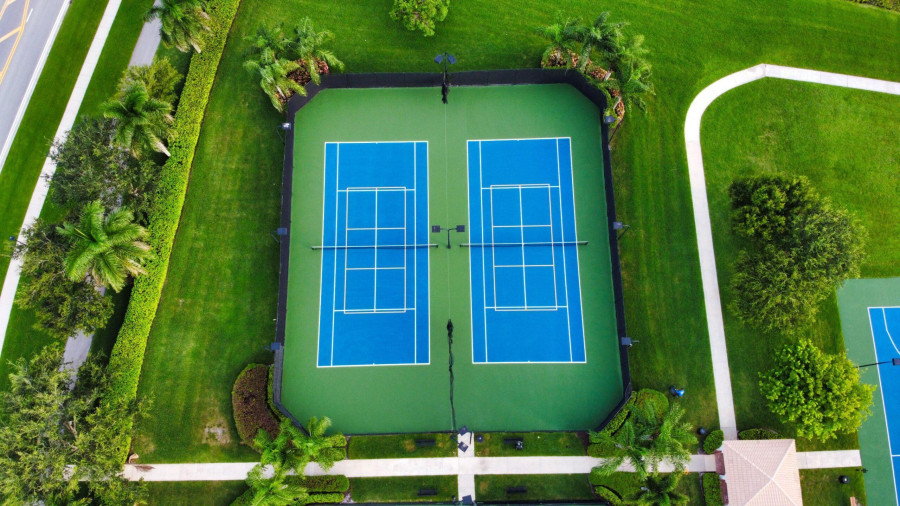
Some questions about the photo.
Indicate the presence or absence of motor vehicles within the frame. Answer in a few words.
No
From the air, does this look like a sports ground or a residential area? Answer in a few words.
sports ground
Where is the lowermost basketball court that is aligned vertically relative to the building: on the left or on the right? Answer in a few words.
right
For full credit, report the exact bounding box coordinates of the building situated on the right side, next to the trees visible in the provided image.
[715,437,805,506]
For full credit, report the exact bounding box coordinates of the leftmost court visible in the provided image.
[280,86,452,435]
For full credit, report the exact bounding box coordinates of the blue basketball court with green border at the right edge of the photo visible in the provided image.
[836,278,900,506]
